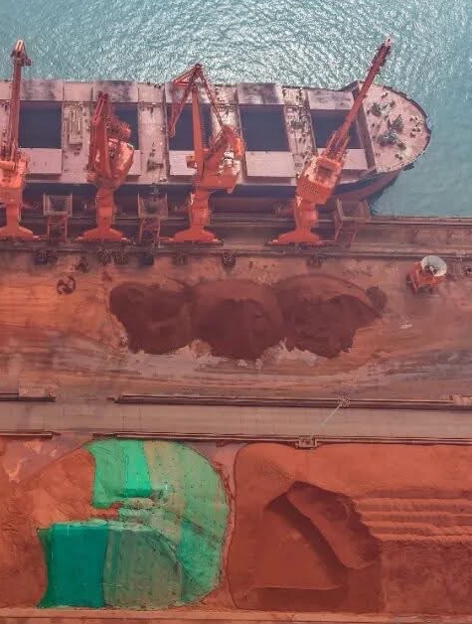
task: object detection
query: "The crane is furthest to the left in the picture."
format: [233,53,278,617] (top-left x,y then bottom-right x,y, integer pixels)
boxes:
[0,26,43,238]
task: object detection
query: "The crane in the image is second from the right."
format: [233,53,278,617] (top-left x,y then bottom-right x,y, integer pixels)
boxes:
[165,63,251,243]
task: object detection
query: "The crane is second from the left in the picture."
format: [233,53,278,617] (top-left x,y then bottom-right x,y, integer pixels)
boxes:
[76,88,137,241]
